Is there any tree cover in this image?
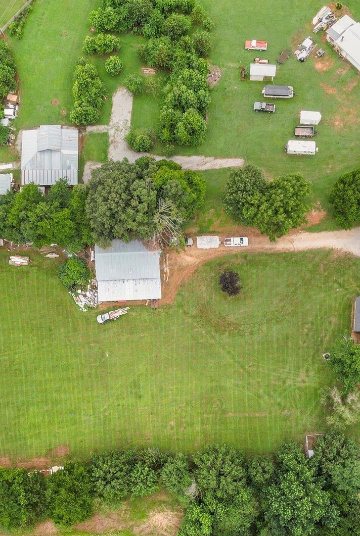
Yes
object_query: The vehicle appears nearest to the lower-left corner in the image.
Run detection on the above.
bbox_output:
[97,308,121,324]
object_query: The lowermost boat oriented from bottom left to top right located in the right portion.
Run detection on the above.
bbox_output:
[299,41,318,61]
